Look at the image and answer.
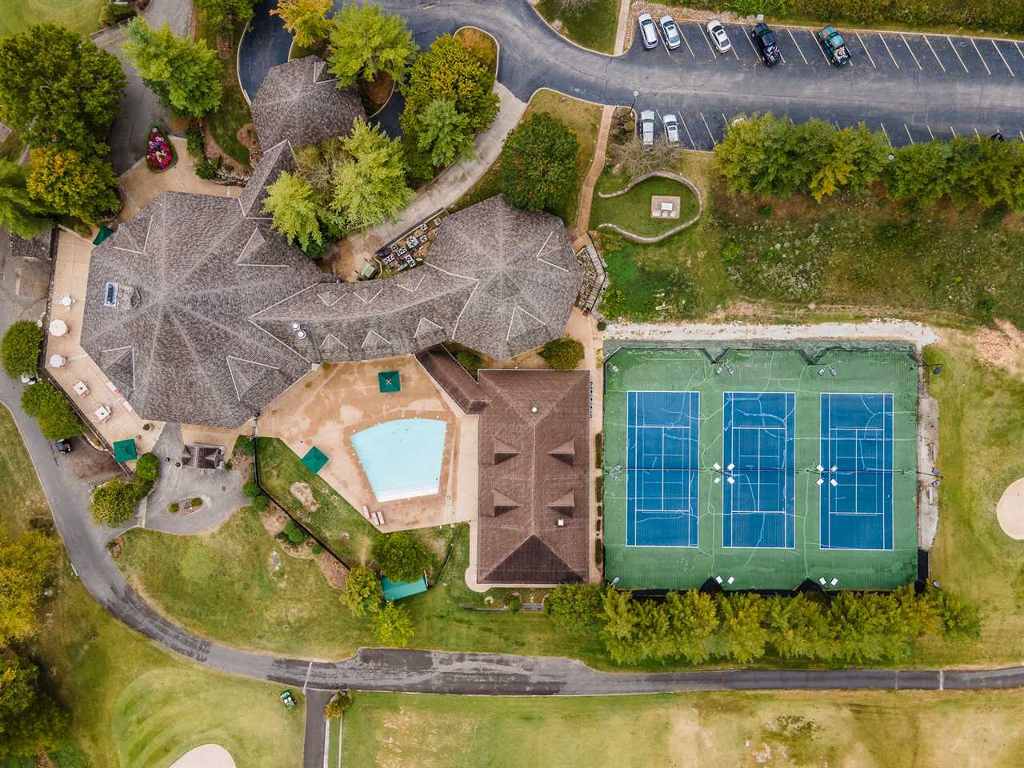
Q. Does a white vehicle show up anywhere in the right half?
Yes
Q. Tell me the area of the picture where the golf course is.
bottom left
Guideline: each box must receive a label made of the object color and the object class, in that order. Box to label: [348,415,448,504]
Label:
white swimming pool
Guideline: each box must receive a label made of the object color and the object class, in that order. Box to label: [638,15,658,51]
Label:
white vehicle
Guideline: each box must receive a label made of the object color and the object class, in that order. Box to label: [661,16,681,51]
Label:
white car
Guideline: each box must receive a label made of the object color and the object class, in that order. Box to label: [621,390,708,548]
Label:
blue tennis court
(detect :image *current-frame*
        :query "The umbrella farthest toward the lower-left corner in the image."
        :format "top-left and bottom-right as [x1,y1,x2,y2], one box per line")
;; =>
[113,438,138,462]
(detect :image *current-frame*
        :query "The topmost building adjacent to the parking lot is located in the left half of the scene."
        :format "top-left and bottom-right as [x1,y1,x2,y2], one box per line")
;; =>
[79,54,584,429]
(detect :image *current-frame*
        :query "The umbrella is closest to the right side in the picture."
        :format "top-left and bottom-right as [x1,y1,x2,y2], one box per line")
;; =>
[379,371,400,392]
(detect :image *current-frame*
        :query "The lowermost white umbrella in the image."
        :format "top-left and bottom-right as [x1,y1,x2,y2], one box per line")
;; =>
[49,354,66,369]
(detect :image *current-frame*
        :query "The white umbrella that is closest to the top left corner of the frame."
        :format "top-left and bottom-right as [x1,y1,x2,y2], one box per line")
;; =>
[49,318,70,336]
